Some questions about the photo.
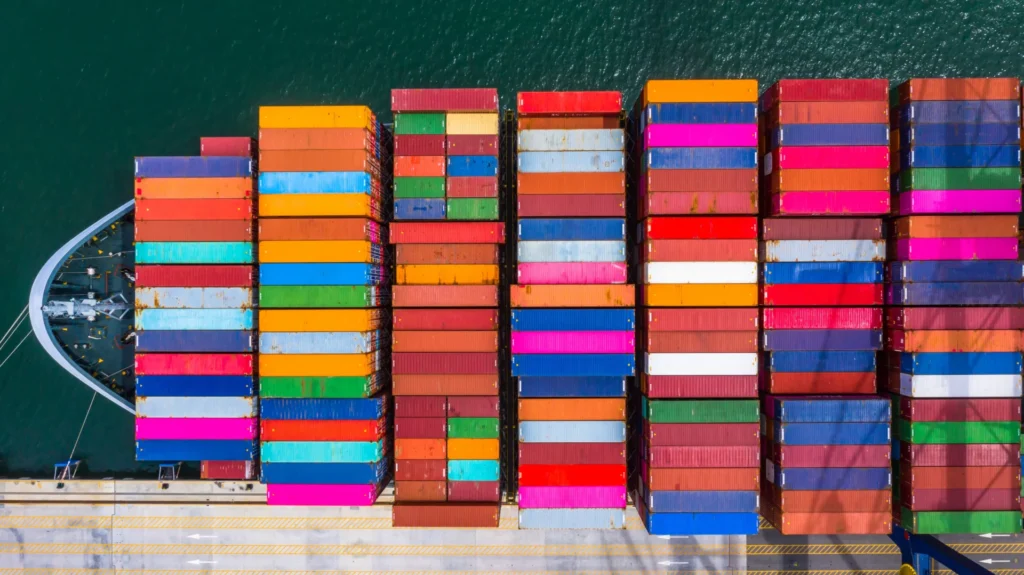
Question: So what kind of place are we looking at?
port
